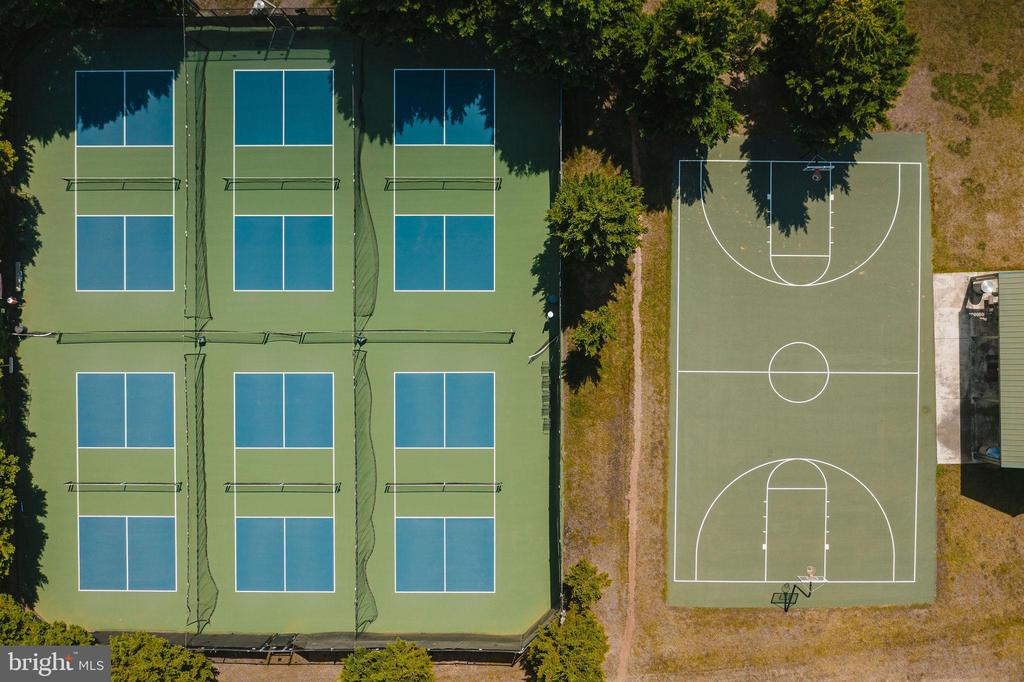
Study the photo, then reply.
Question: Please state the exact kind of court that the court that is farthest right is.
basketball court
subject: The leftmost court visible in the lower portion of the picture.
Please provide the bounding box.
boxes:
[76,372,177,592]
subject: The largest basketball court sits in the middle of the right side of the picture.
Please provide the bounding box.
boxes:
[666,133,937,608]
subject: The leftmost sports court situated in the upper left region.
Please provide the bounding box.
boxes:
[75,70,174,292]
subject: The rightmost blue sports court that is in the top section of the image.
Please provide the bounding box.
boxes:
[394,69,495,292]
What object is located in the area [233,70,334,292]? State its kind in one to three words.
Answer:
sports court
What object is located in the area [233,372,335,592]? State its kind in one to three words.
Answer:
sports court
